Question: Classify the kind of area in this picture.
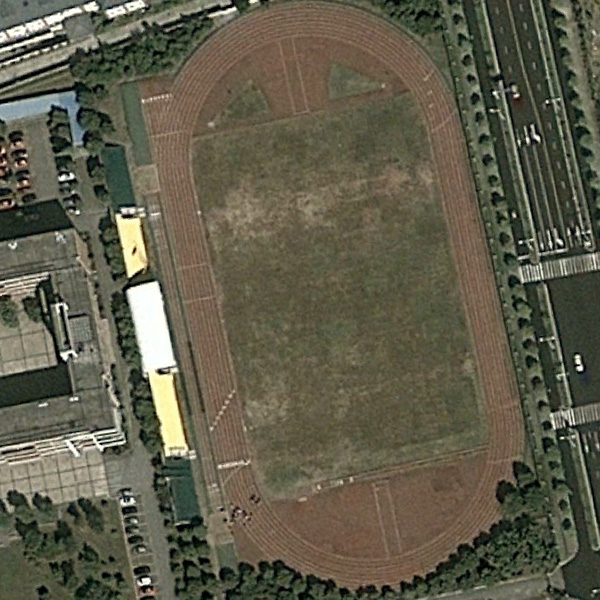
sports ground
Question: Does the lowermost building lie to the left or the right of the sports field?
to the left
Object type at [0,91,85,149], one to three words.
shed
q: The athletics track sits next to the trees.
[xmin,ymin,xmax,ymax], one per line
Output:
[141,0,527,592]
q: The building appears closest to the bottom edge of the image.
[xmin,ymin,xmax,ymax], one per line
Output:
[0,227,130,473]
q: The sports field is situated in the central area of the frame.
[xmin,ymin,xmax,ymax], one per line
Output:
[193,94,489,501]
